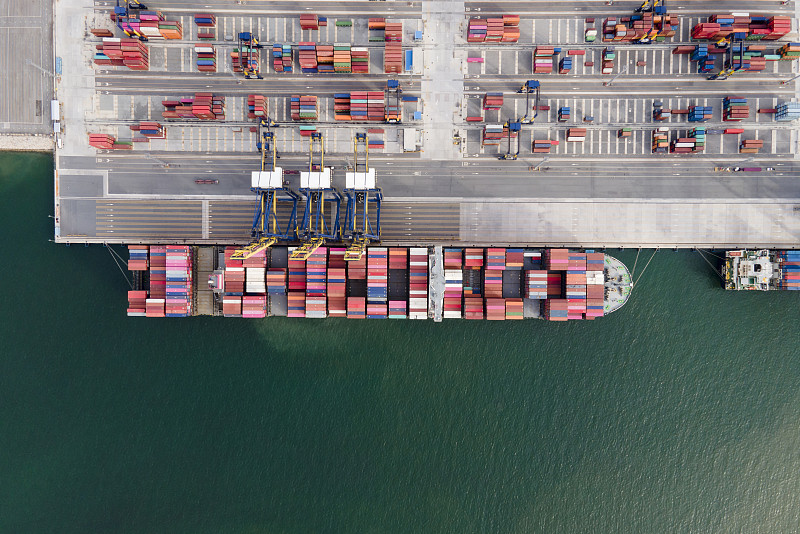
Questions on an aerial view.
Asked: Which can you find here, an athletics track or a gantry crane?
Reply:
gantry crane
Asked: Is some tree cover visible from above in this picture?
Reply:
No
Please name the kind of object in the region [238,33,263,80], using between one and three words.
container crane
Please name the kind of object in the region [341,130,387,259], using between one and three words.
container crane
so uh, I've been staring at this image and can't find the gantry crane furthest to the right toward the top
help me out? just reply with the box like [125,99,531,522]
[709,32,745,81]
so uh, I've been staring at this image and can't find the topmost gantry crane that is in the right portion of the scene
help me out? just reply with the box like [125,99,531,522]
[633,0,664,44]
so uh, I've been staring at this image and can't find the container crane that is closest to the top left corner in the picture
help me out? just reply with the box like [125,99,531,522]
[116,0,148,43]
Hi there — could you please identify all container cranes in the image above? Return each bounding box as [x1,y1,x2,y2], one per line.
[384,80,402,124]
[116,0,148,43]
[238,33,263,80]
[633,0,664,44]
[341,130,387,259]
[255,116,279,158]
[230,129,302,258]
[498,118,522,160]
[709,32,745,81]
[517,80,541,125]
[288,130,345,259]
